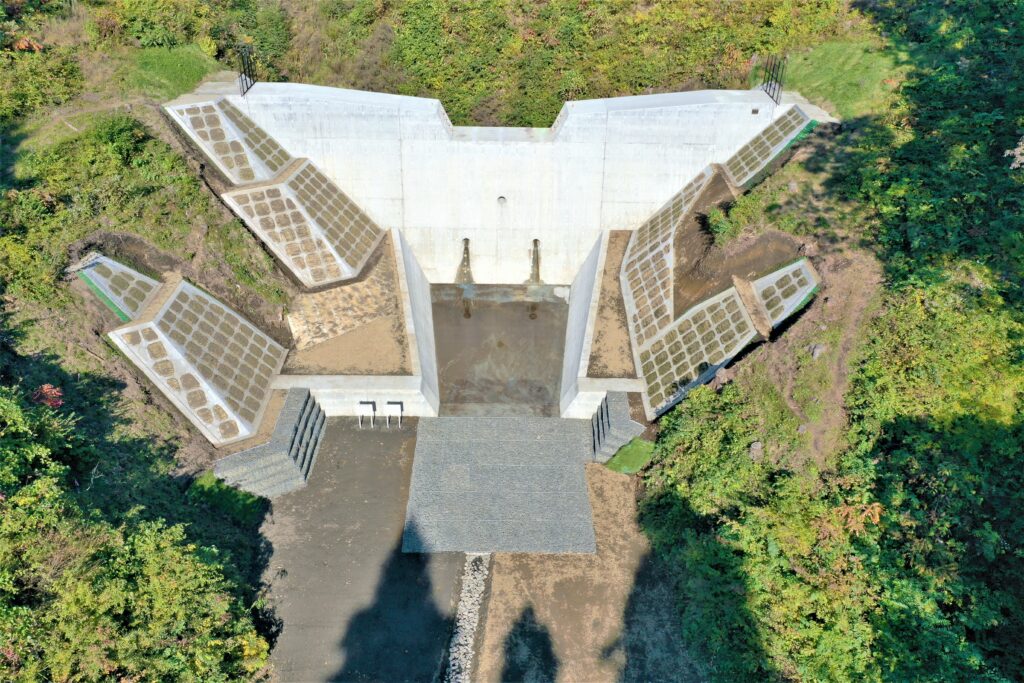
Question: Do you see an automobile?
No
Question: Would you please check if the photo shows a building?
No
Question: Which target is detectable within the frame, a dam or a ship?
dam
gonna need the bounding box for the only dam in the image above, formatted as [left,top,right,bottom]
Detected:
[214,84,798,285]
